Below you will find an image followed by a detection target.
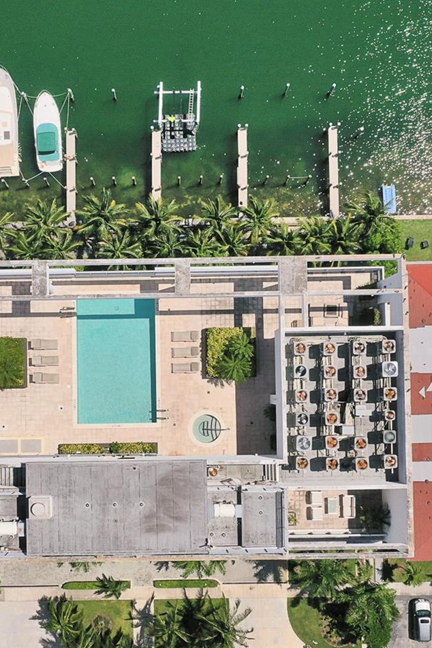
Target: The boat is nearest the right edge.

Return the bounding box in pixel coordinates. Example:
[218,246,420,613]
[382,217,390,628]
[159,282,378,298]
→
[33,89,63,173]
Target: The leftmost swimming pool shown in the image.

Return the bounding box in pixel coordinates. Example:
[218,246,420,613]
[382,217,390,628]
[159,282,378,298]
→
[65,293,168,429]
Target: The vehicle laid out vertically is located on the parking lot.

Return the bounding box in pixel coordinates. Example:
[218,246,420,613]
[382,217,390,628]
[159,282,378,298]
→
[410,598,431,642]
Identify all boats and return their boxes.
[33,89,63,173]
[0,67,21,180]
